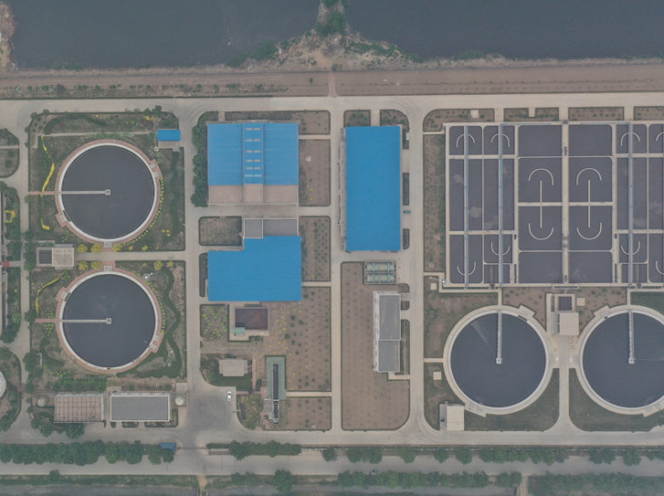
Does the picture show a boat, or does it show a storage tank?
storage tank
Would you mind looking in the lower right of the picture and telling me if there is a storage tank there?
Yes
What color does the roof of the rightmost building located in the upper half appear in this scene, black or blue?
blue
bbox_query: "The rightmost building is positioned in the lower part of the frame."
[552,294,579,335]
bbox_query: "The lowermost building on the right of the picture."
[439,401,465,432]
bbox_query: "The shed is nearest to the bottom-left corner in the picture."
[55,393,104,422]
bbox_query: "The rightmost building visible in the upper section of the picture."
[337,124,403,252]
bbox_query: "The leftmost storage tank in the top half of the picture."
[55,139,163,249]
